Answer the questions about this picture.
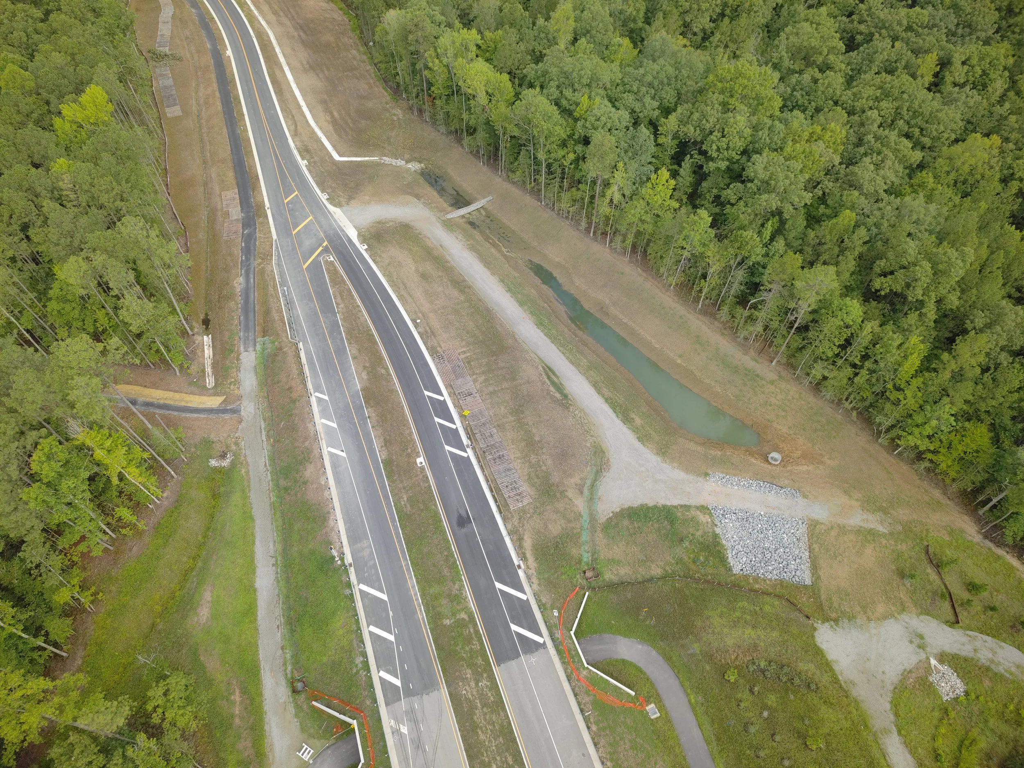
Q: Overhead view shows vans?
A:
No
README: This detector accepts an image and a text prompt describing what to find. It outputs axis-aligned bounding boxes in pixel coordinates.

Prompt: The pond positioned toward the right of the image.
[527,259,760,446]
